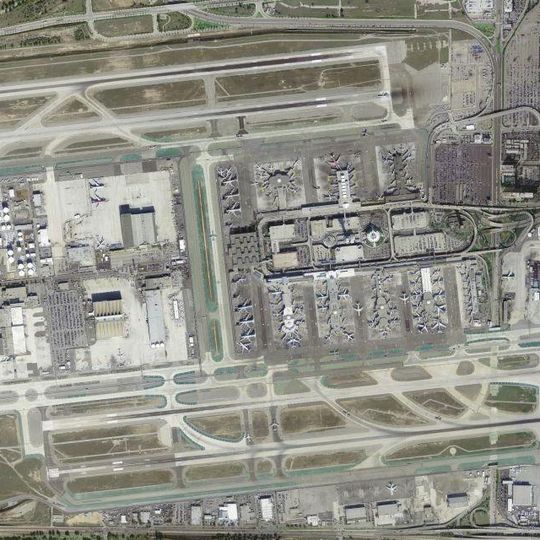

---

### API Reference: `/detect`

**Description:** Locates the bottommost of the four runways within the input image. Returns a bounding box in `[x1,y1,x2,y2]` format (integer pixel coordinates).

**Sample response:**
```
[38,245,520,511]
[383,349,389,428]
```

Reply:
[48,412,540,481]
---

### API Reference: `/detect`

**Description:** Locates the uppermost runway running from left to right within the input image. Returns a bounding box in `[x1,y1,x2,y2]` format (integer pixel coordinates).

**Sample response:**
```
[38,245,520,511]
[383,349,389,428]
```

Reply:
[0,42,386,100]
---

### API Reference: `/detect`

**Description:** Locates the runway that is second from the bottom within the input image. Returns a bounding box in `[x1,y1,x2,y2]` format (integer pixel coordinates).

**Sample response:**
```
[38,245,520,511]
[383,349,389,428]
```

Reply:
[41,364,540,433]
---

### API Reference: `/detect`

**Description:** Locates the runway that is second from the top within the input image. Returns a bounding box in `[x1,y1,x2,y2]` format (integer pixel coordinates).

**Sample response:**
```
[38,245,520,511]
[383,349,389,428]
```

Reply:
[0,86,390,146]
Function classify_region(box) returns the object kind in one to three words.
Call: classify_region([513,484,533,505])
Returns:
hangar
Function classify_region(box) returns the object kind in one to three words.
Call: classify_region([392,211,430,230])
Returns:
building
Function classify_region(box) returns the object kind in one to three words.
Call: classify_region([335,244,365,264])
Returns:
building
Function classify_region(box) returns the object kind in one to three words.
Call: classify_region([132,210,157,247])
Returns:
hangar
